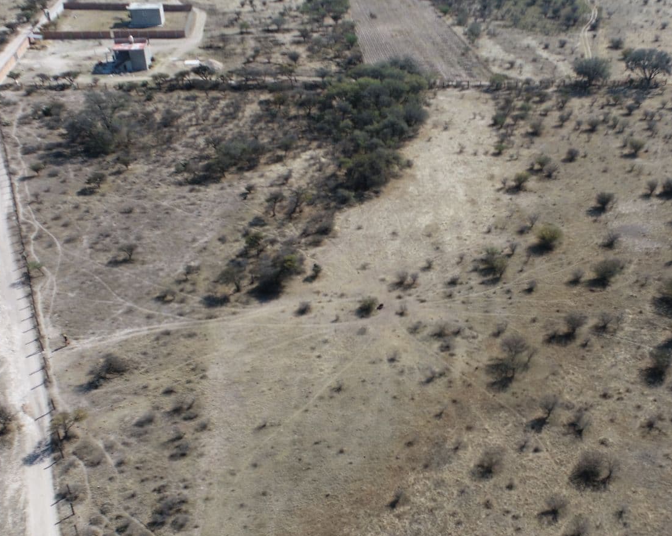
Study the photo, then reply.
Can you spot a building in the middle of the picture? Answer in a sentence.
No, no building appears in the middle of the picture.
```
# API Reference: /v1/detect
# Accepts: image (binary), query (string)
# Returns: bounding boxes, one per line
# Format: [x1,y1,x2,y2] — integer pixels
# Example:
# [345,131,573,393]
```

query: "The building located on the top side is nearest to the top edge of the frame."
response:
[123,0,164,27]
